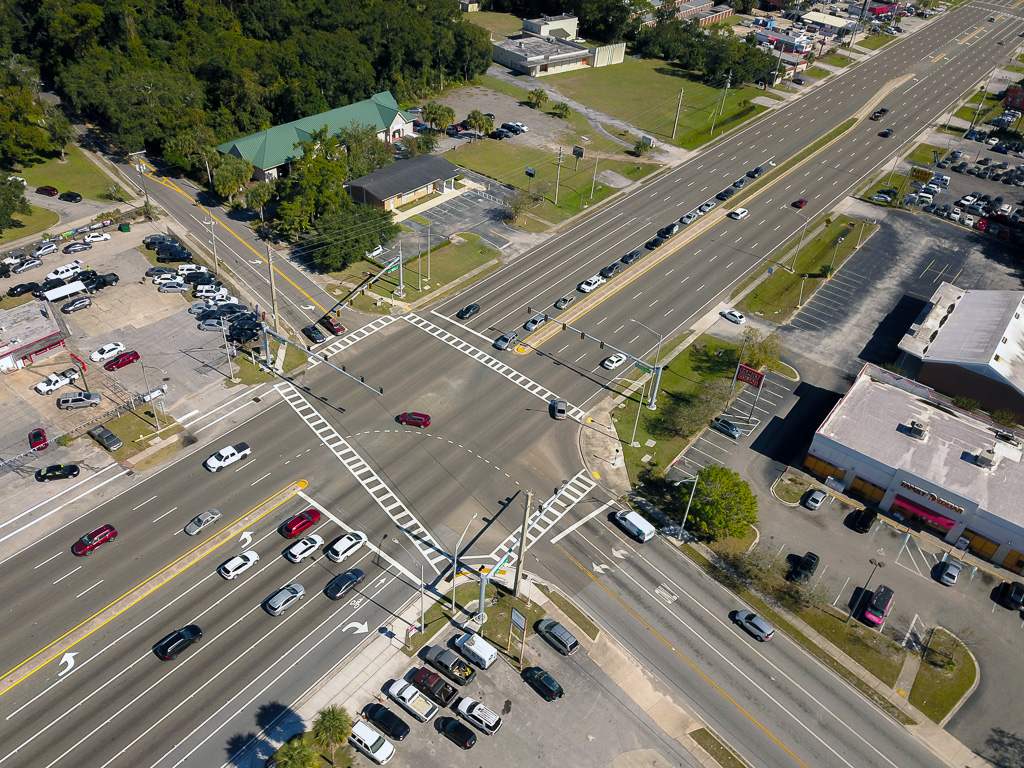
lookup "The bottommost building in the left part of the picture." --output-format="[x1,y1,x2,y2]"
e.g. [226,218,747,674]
[0,303,75,389]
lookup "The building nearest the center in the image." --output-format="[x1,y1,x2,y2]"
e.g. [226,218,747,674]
[347,155,461,214]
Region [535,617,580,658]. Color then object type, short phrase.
gray vehicle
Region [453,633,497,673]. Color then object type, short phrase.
white van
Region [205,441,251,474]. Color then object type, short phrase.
white truck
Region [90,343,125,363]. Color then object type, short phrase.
white car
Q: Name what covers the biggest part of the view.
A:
paved ground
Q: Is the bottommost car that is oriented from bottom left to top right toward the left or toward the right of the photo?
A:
left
